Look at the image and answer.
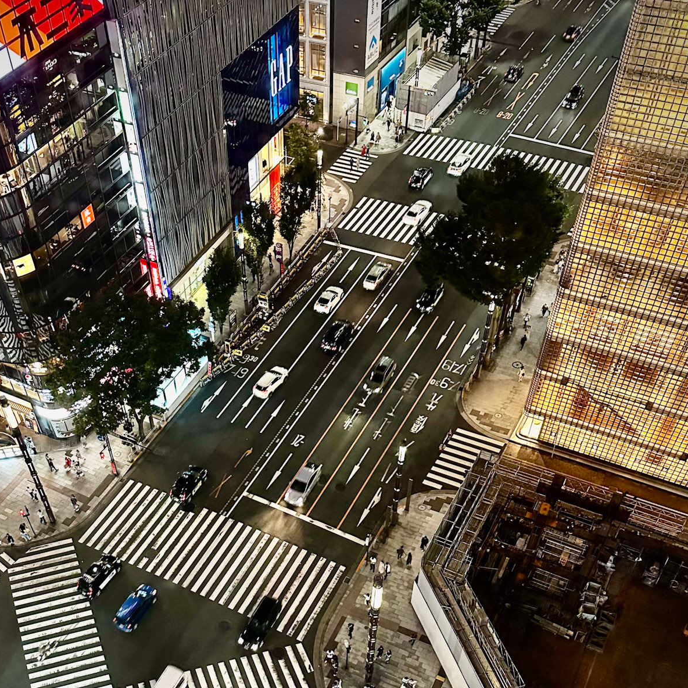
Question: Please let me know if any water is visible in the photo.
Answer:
No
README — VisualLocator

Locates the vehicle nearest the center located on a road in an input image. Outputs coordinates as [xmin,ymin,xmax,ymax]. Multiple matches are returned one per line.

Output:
[320,320,356,358]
